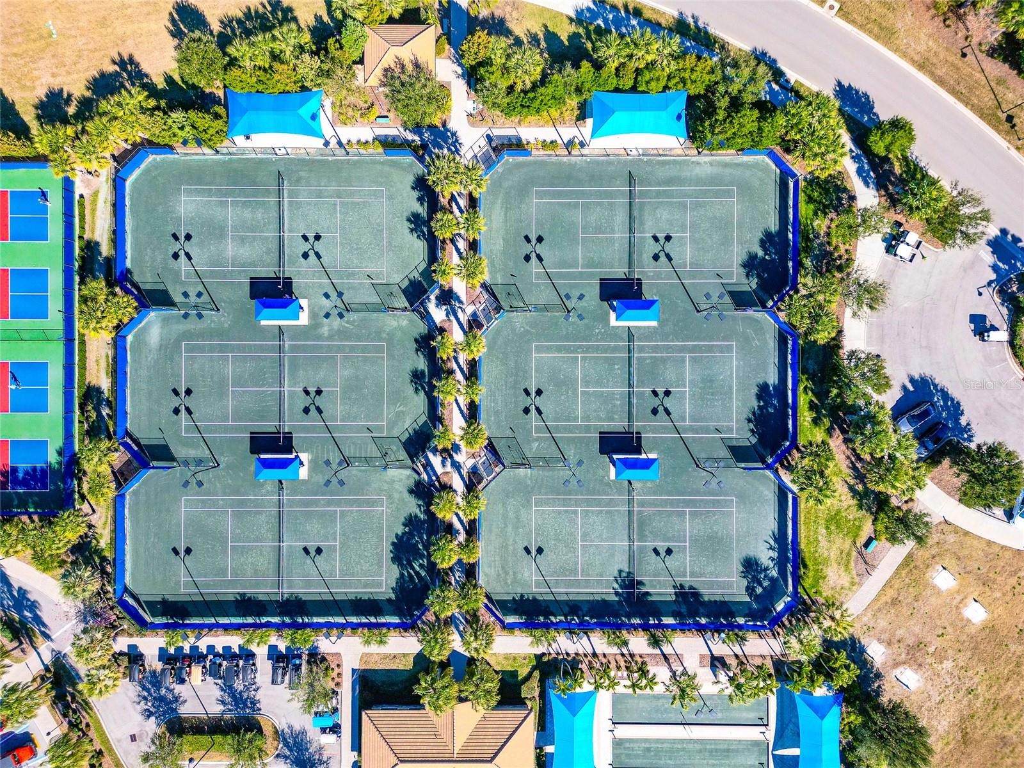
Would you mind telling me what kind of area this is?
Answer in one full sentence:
The picture captures a sports ground.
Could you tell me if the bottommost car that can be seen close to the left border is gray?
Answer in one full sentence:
No, the bottommost car that can be seen close to the left border is red.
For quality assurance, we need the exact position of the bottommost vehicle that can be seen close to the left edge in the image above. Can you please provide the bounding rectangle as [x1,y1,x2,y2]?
[2,740,41,768]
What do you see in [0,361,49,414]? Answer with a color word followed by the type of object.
blue sports court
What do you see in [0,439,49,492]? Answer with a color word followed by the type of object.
blue sports court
